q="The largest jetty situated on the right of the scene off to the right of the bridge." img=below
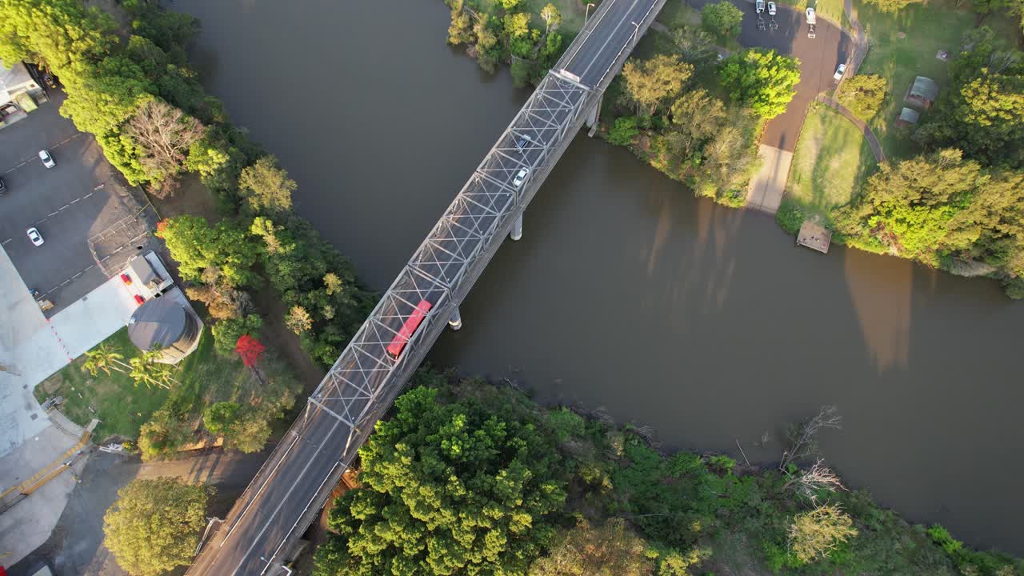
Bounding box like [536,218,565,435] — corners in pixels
[794,218,833,253]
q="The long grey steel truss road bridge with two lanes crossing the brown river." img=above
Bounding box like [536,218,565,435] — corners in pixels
[178,0,667,576]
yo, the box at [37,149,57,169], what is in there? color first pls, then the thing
white car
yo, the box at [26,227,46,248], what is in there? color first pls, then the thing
white car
